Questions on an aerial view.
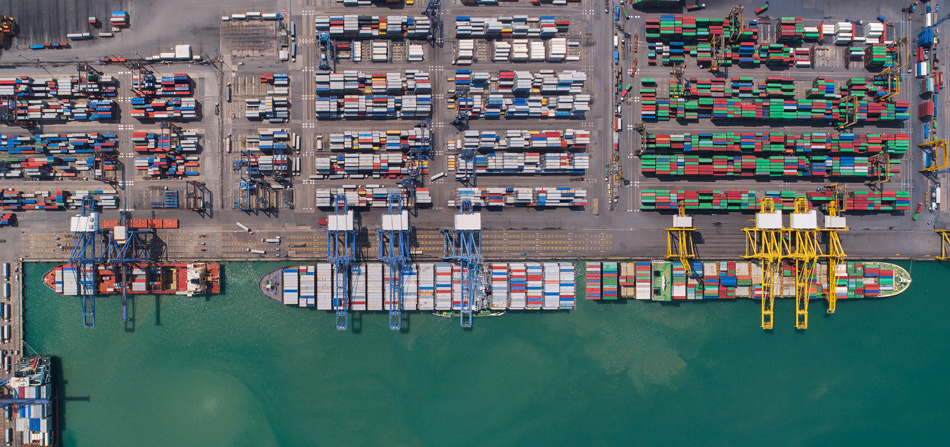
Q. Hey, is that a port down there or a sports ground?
port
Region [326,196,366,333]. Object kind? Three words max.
container crane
